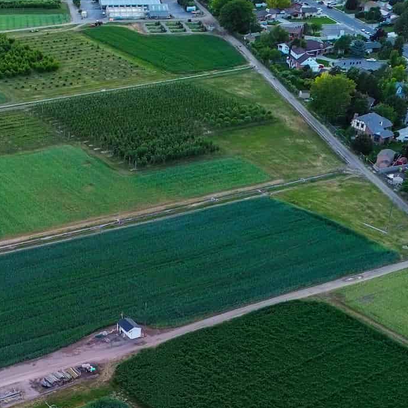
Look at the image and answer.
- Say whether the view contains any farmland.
Yes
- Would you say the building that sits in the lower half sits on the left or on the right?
left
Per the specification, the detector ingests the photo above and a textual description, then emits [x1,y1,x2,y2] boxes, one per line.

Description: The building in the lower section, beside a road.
[117,315,144,339]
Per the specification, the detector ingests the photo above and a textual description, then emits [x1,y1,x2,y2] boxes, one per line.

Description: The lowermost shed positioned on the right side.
[380,152,408,173]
